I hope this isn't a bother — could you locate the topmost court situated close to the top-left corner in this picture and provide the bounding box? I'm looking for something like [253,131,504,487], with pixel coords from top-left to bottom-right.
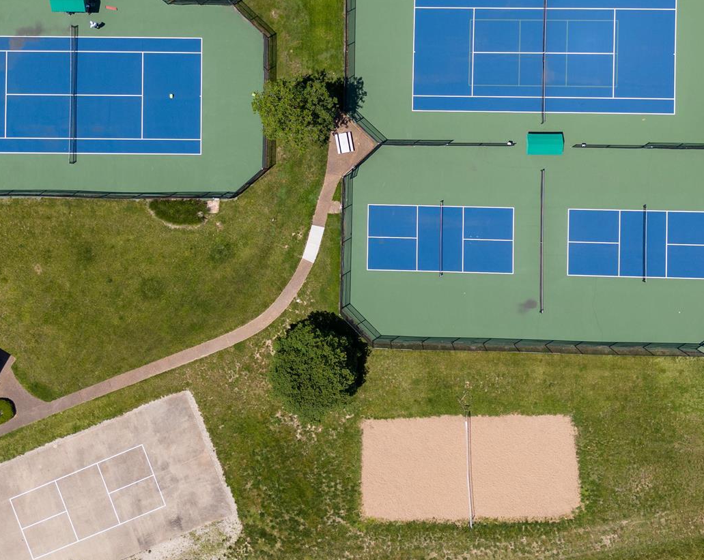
[0,35,203,154]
